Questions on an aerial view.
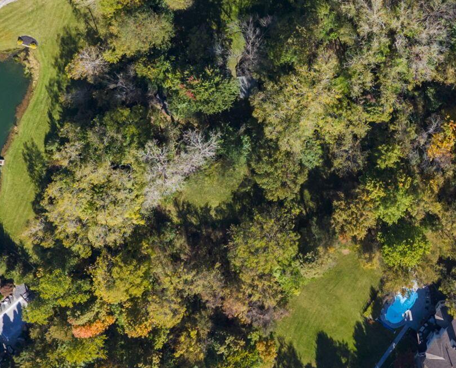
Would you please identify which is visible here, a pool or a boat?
pool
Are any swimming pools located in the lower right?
Yes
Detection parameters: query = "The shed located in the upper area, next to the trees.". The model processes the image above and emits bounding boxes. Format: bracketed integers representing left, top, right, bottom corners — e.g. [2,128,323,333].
[238,74,258,97]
